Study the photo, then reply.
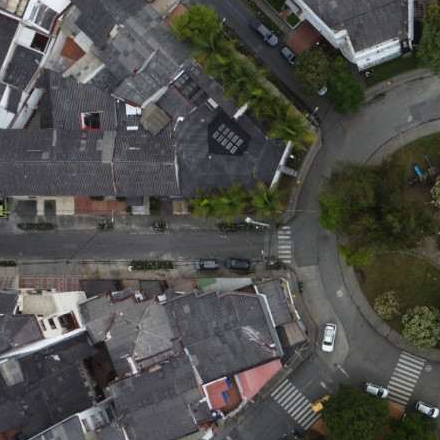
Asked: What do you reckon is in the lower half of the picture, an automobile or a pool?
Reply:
automobile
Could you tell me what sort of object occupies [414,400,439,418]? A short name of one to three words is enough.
car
